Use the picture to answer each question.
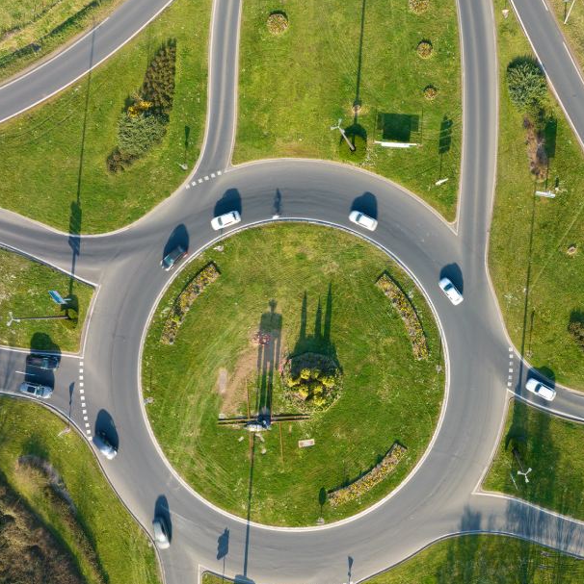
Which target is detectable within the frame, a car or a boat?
car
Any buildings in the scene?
No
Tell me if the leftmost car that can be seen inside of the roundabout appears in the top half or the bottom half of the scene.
bottom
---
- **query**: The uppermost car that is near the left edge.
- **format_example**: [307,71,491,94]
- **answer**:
[29,354,58,369]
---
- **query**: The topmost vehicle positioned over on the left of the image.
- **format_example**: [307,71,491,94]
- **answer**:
[213,211,240,230]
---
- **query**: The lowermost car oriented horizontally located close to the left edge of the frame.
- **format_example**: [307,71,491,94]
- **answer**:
[19,380,53,398]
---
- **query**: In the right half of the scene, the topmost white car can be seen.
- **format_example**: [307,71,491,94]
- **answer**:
[350,211,378,232]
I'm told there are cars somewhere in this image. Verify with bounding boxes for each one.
[527,379,555,401]
[29,354,58,369]
[440,278,465,306]
[92,434,118,460]
[350,211,378,232]
[153,519,171,547]
[19,380,53,398]
[213,211,240,230]
[161,246,189,270]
